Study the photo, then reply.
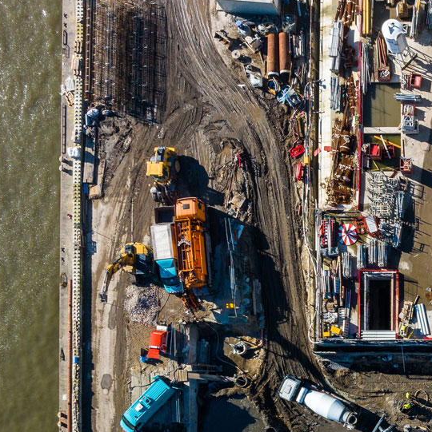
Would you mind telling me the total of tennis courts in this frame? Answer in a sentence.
The count of tennis courts is 0.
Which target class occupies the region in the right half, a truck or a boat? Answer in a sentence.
You can see a truck in the right half.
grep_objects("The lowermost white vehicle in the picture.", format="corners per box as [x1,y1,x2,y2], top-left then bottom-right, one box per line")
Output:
[269,371,358,432]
